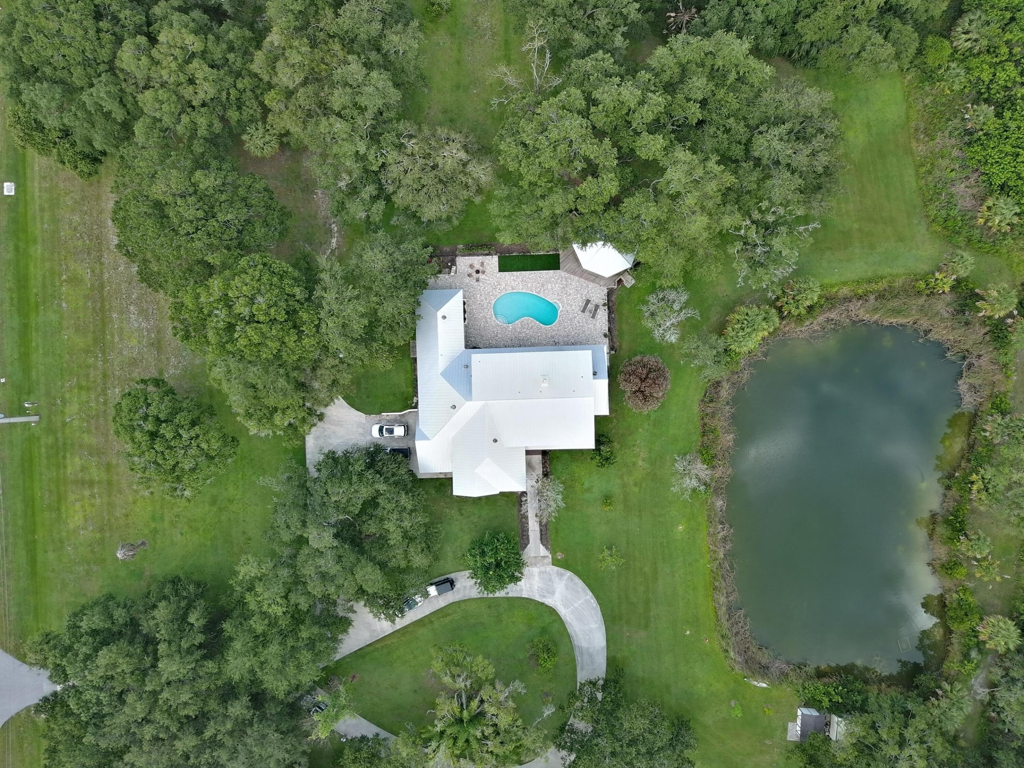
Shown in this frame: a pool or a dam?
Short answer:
pool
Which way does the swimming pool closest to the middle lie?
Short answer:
horizontally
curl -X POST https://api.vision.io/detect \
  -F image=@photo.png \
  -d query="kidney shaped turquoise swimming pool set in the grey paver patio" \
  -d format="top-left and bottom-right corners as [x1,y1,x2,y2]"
[491,290,563,327]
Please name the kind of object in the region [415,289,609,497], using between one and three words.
house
